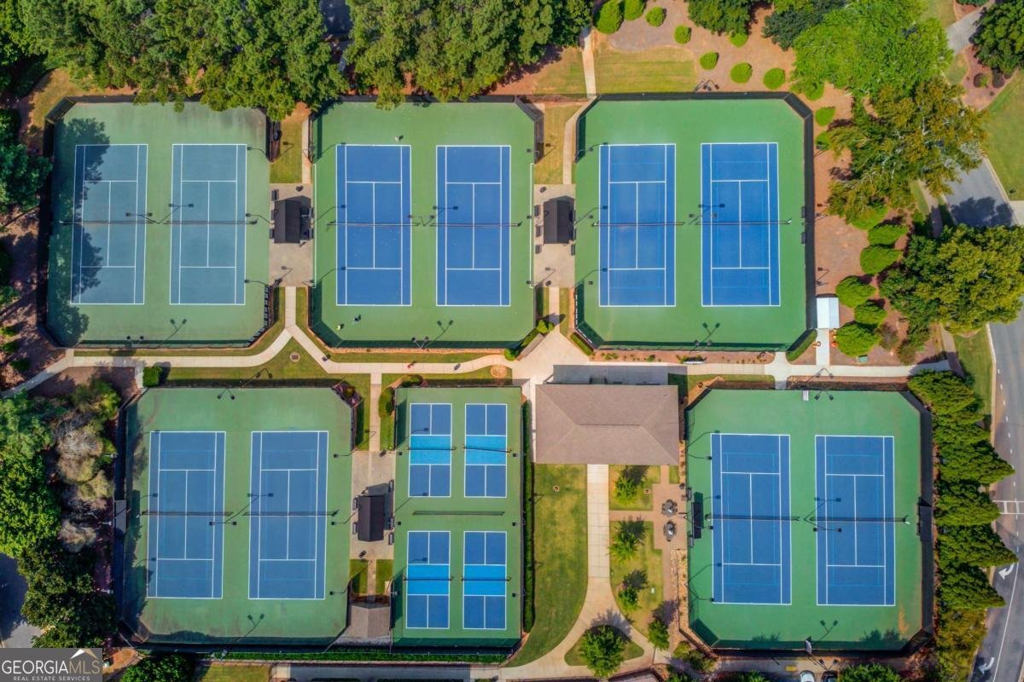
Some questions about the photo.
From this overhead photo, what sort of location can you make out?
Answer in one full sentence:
The area seen from above is a sports ground.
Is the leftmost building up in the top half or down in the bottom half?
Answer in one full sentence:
You can find the leftmost building in the top half.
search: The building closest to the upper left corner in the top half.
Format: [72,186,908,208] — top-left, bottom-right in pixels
[274,198,302,243]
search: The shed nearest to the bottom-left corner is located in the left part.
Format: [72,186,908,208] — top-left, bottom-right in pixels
[350,598,390,642]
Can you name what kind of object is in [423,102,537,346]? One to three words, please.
tennis court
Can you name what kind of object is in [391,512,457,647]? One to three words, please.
sports court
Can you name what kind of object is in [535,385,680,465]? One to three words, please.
building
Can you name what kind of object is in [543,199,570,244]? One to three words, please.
building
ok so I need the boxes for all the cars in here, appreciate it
[801,672,817,682]
[823,673,839,682]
